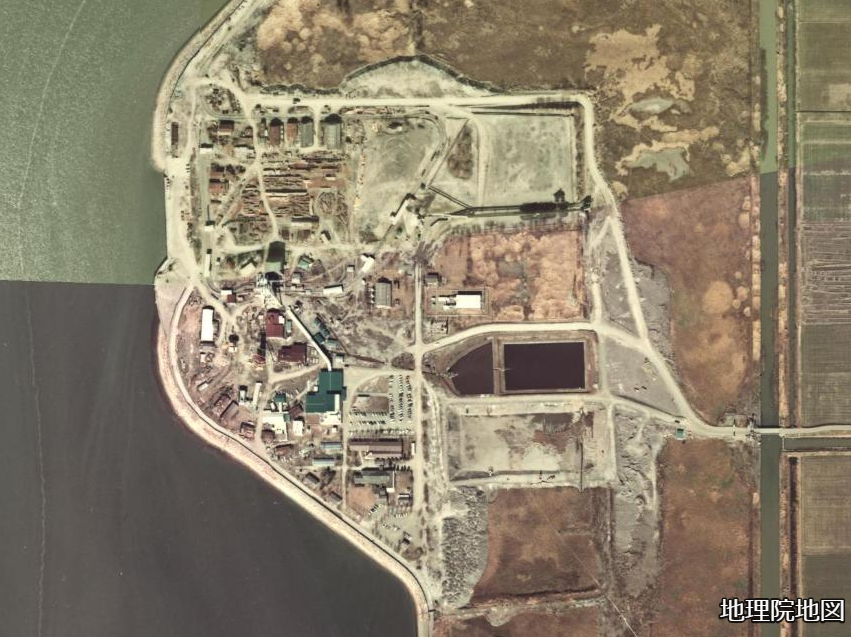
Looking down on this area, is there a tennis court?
No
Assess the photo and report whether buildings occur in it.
Yes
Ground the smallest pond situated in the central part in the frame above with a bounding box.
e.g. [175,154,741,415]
[448,343,494,394]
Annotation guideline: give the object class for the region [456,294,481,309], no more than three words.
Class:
building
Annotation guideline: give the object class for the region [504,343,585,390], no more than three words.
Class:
pond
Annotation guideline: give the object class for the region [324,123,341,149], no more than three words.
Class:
building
